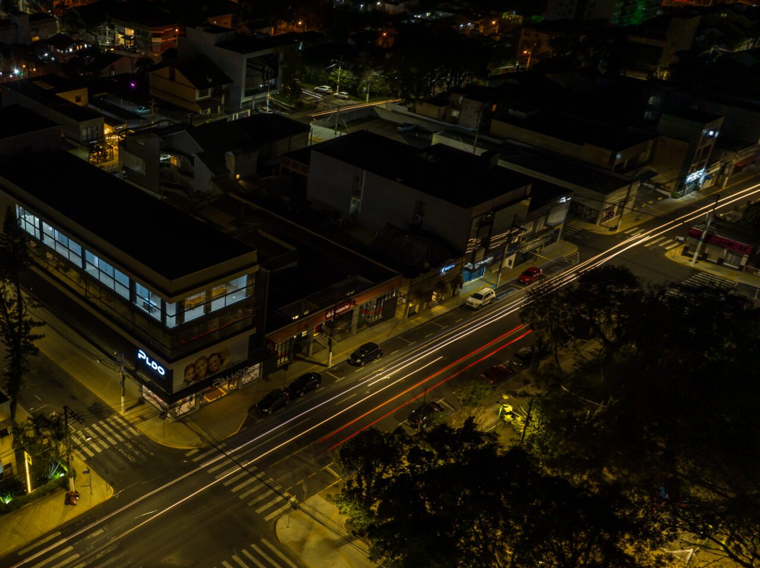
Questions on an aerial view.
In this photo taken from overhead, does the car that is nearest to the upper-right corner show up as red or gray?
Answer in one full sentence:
The color of the car that is nearest to the upper-right corner is red.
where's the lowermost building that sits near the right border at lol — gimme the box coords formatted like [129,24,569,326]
[686,196,760,273]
